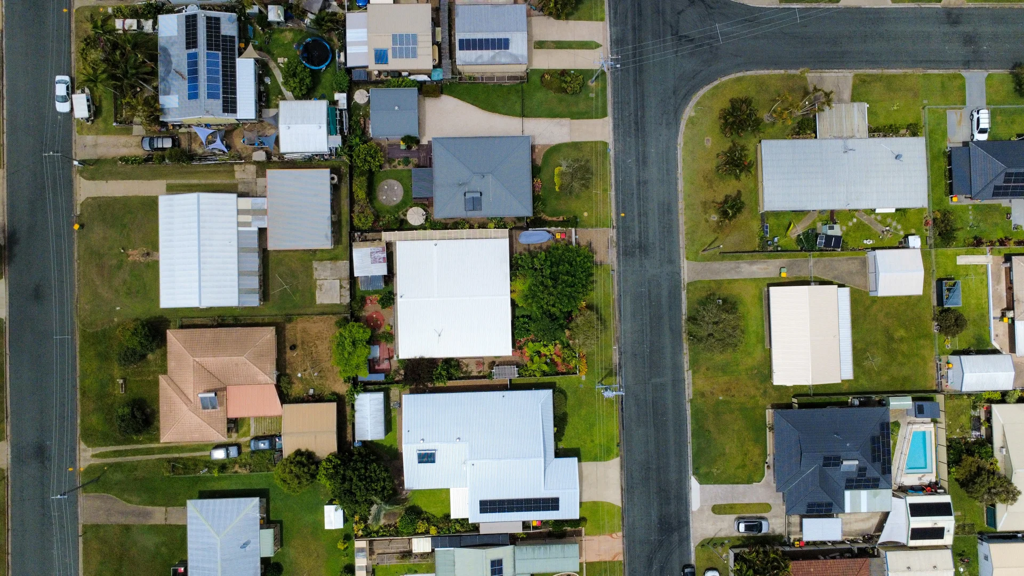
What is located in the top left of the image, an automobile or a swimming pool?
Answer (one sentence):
Visible in the top left of the image is an automobile.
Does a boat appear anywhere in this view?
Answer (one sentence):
Yes, the photo shows a boat.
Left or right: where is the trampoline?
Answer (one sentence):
You can find the trampoline on the left side of the picture.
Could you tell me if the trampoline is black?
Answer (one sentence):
Yes, the trampoline is black.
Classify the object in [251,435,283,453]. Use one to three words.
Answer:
car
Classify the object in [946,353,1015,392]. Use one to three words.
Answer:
shed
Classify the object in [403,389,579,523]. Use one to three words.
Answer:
house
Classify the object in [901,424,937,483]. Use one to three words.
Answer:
swimming pool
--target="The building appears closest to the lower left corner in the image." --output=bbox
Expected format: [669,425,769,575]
[186,495,279,576]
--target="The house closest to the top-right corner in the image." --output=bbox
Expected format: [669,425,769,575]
[941,140,1024,200]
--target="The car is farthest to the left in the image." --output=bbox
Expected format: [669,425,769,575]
[54,76,74,114]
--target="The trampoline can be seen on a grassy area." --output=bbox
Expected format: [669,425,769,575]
[296,34,334,70]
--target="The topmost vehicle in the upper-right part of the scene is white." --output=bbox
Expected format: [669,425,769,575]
[968,108,990,141]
